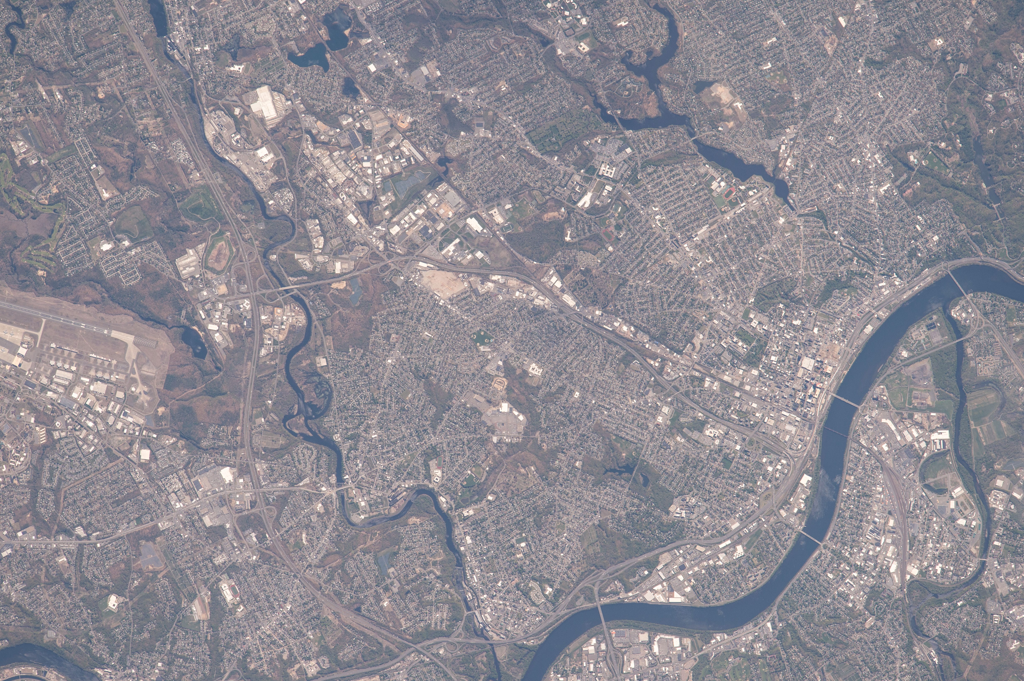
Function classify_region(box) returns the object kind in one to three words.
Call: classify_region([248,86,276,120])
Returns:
shed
